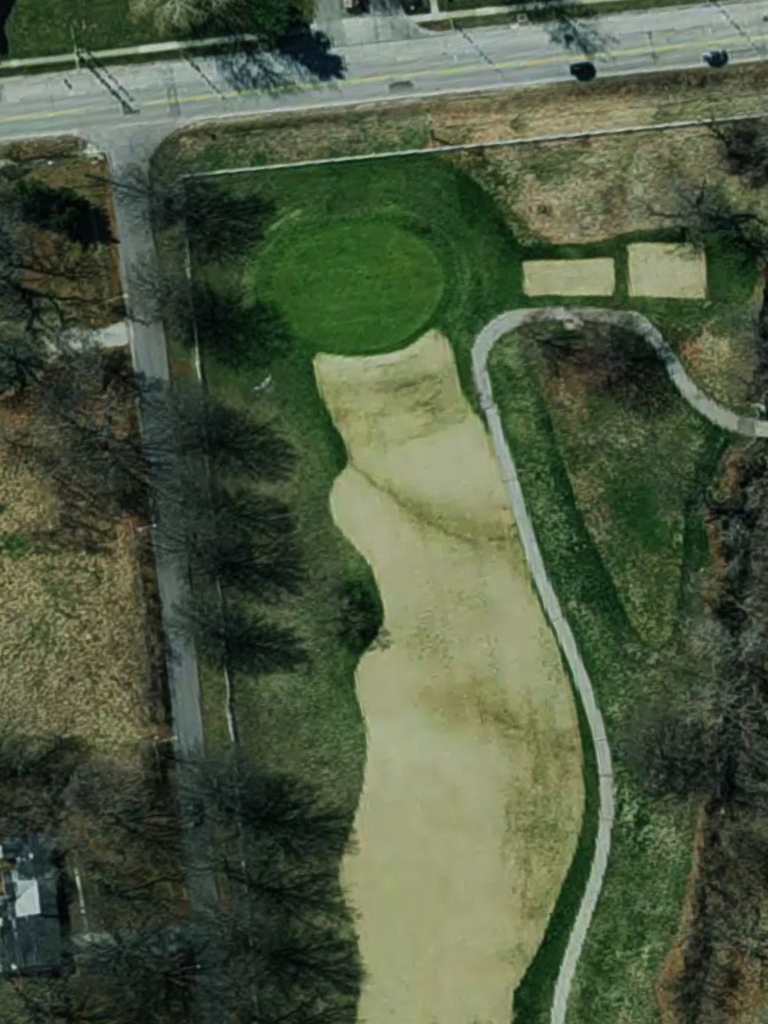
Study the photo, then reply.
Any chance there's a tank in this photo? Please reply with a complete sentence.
No, no tank is visible in the view.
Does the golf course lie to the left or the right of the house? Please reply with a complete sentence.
Relative to the house, the golf course is on the right.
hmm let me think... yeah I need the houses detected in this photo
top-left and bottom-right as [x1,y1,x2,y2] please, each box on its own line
[0,842,61,974]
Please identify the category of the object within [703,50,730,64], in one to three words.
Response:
car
